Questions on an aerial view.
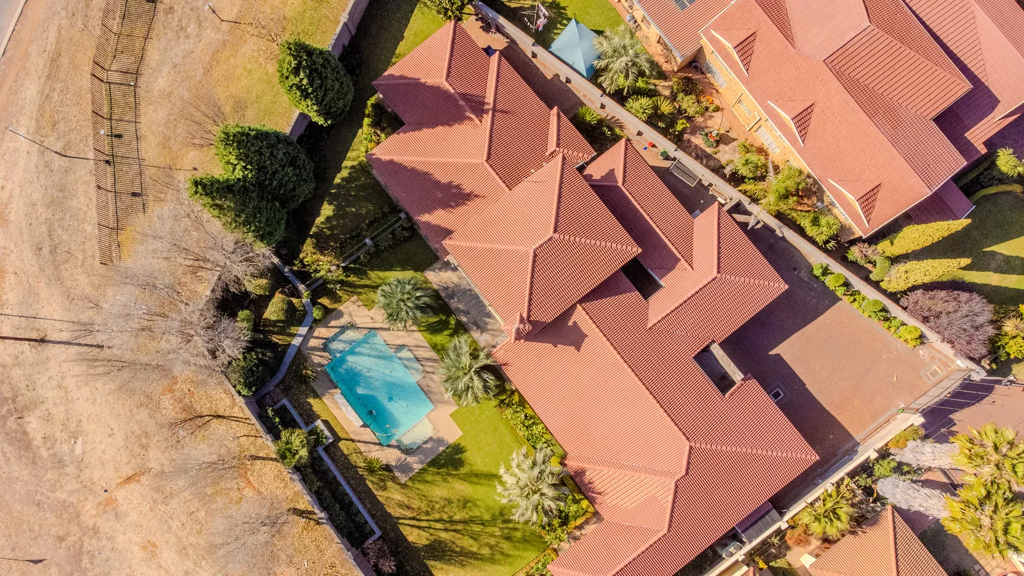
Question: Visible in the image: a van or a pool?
pool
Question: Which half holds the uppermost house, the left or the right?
right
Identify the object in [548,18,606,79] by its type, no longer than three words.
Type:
gazebo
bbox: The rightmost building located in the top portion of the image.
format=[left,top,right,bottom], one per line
[617,0,1024,237]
